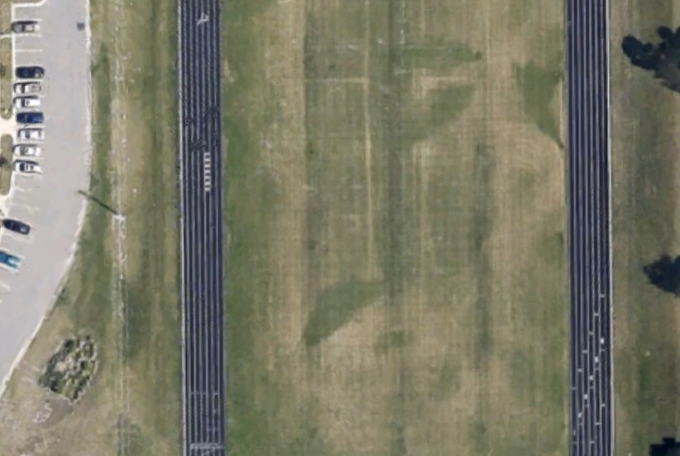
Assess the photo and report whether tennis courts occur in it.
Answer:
No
